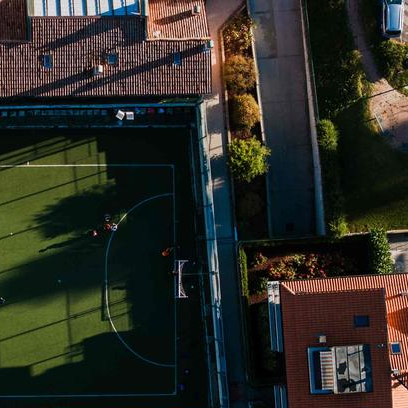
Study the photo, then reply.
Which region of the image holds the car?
top right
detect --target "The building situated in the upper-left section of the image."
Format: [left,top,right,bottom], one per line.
[0,0,217,100]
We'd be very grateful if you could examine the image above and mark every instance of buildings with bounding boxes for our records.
[0,0,217,100]
[266,274,408,408]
